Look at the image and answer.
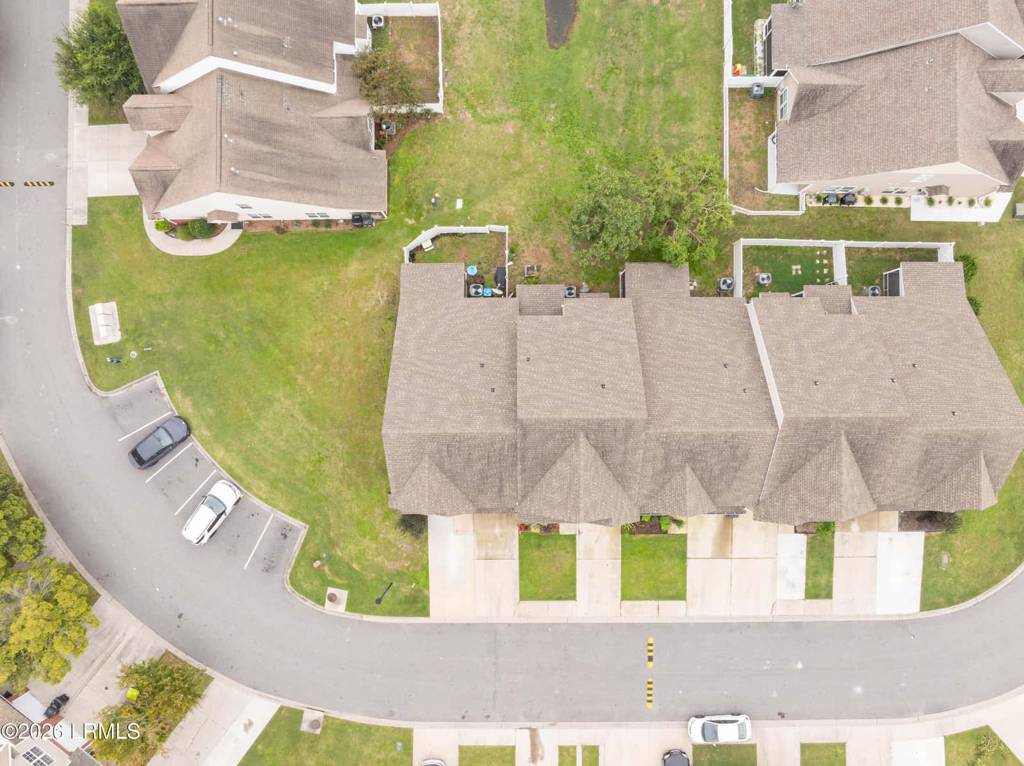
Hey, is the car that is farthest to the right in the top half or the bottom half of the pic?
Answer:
bottom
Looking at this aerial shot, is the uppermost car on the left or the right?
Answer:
left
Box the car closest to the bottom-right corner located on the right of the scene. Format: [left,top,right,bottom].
[687,713,753,749]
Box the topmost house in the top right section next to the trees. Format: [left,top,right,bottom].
[761,0,1024,204]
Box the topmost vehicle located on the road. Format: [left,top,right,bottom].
[127,419,196,472]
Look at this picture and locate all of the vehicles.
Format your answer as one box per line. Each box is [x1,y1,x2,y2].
[182,479,246,547]
[687,713,753,749]
[42,693,70,720]
[127,419,196,472]
[662,749,690,766]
